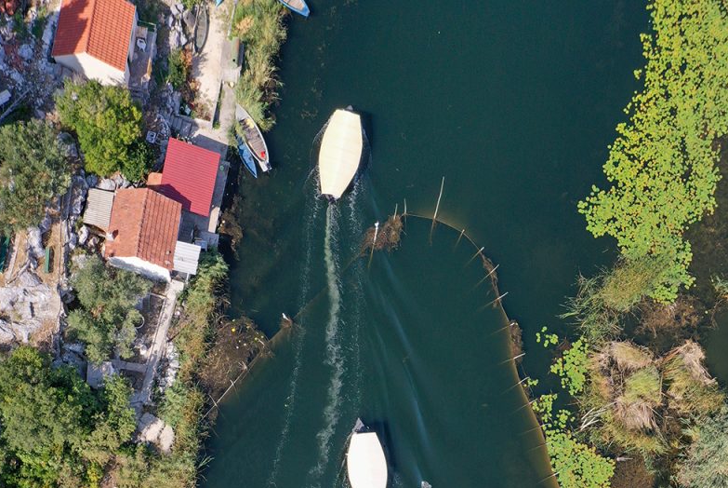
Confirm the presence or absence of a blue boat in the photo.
Yes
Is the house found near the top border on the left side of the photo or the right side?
left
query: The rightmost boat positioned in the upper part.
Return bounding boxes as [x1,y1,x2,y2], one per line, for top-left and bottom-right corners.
[319,104,363,210]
